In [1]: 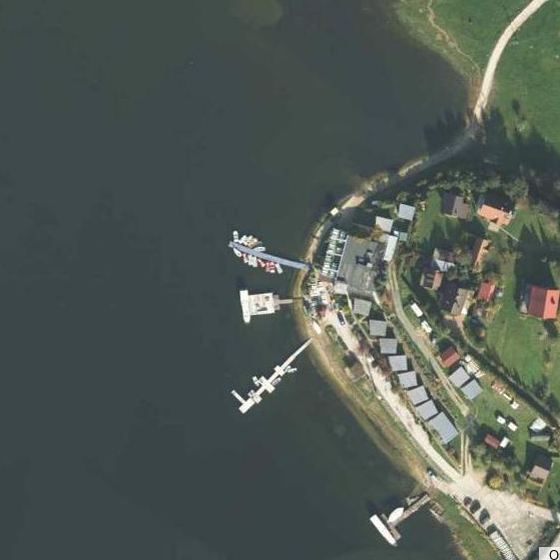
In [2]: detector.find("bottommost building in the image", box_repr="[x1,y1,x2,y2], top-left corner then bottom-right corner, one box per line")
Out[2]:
[528,459,549,481]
